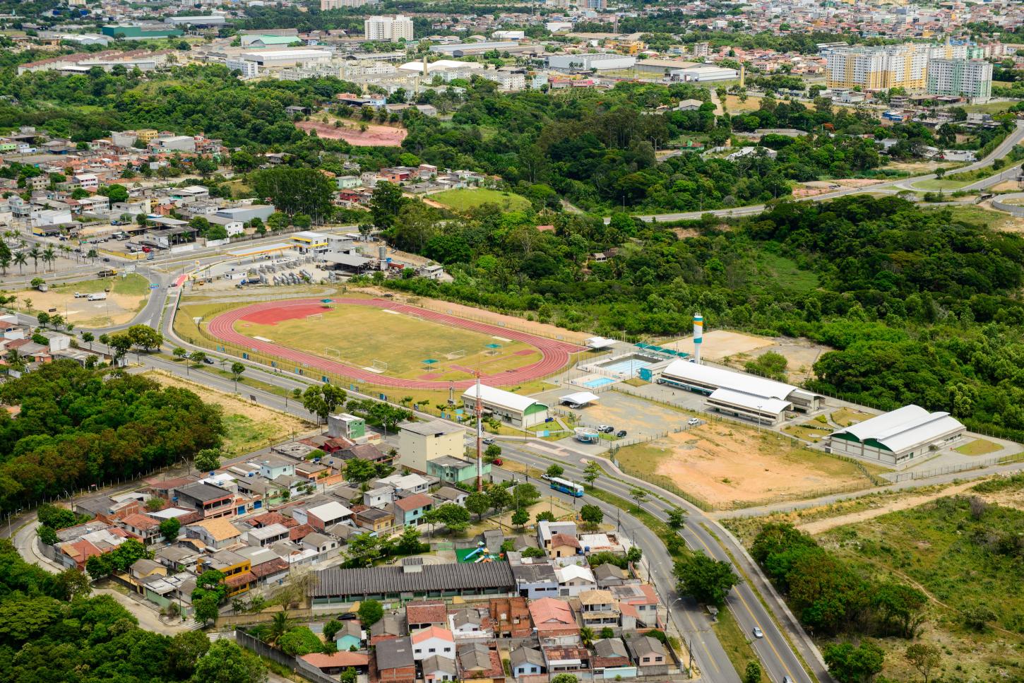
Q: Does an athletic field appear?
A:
Yes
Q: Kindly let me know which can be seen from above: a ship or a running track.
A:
running track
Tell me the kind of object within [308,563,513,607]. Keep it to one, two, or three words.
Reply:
building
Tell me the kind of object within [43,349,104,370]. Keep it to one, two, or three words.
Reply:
house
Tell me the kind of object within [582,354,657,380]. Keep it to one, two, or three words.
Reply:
swimming pool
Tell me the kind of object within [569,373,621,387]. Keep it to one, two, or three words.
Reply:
swimming pool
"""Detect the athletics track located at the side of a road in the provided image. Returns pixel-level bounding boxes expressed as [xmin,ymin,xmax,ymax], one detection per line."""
[207,298,617,389]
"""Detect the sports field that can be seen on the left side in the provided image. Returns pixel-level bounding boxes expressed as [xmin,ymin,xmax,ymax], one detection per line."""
[233,303,543,381]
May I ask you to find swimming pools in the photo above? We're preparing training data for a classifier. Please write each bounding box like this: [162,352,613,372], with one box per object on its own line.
[569,373,621,387]
[582,354,657,380]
